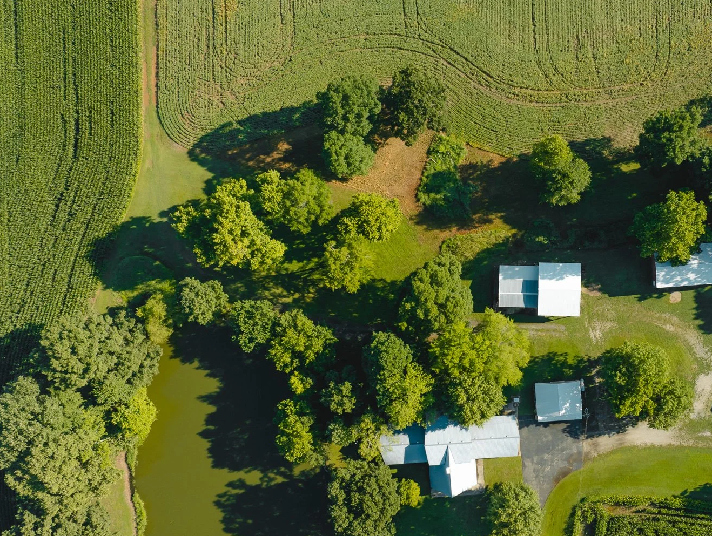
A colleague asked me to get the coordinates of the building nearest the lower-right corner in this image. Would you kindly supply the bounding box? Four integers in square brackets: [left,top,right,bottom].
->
[535,380,582,423]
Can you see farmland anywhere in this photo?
Yes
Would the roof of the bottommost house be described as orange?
No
